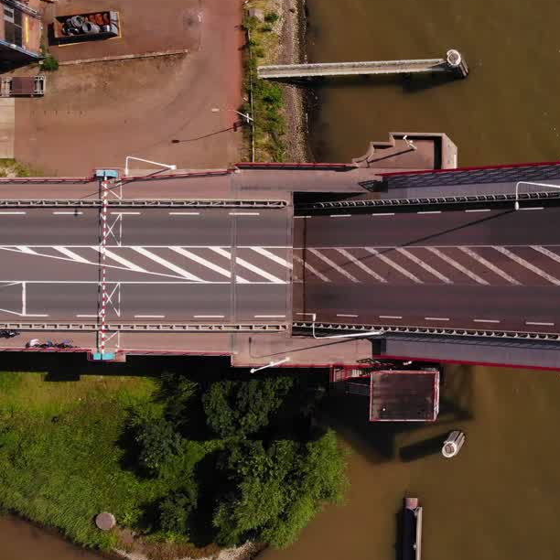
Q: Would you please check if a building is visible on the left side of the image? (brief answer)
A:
Yes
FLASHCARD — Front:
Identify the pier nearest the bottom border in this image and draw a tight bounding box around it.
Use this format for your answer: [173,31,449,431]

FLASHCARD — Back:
[405,491,424,560]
